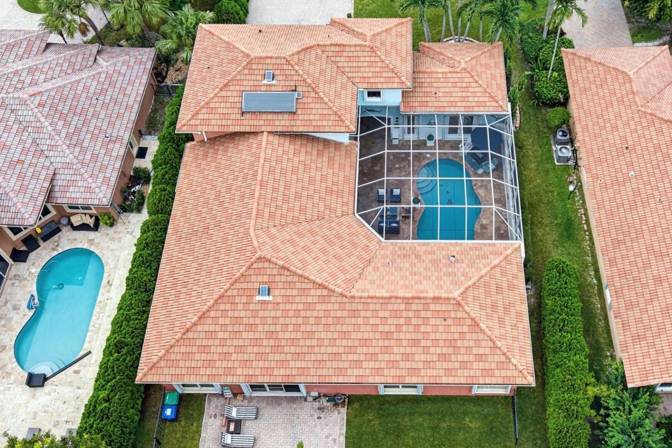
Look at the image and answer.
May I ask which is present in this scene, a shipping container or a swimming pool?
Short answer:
swimming pool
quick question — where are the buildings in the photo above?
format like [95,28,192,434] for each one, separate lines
[560,43,672,391]
[133,15,536,396]
[0,28,157,307]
